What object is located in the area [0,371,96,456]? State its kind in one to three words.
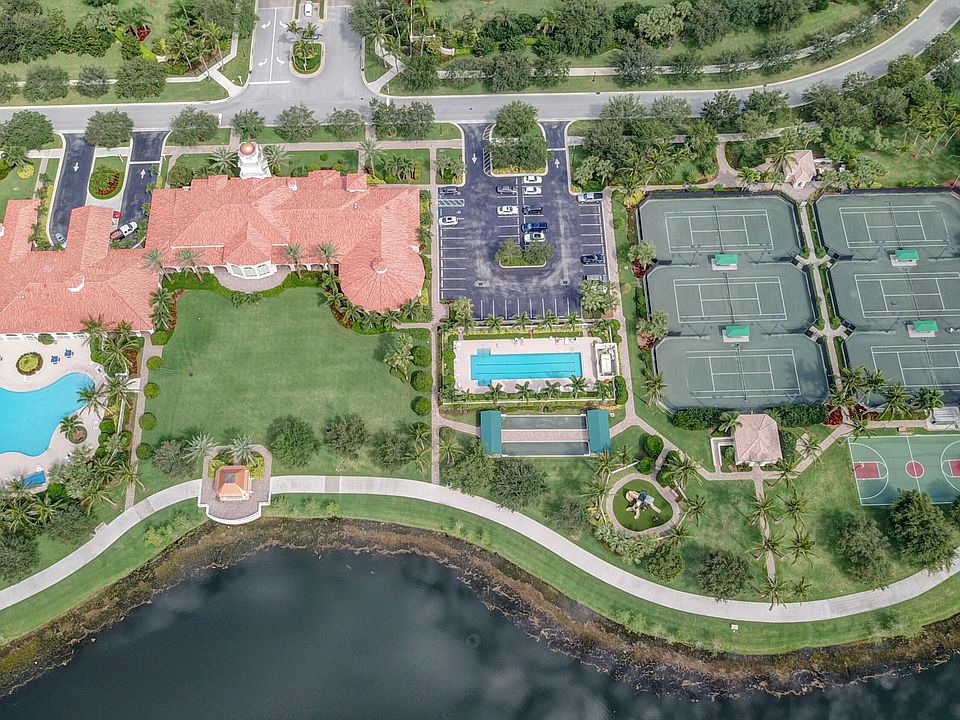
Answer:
swimming pool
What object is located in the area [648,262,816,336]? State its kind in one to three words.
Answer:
tennis court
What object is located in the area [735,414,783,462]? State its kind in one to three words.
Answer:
building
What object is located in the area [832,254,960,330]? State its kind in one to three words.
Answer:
tennis court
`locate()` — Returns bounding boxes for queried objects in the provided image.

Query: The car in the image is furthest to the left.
[52,229,66,246]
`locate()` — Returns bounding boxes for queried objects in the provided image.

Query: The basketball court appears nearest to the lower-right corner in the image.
[848,432,960,506]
